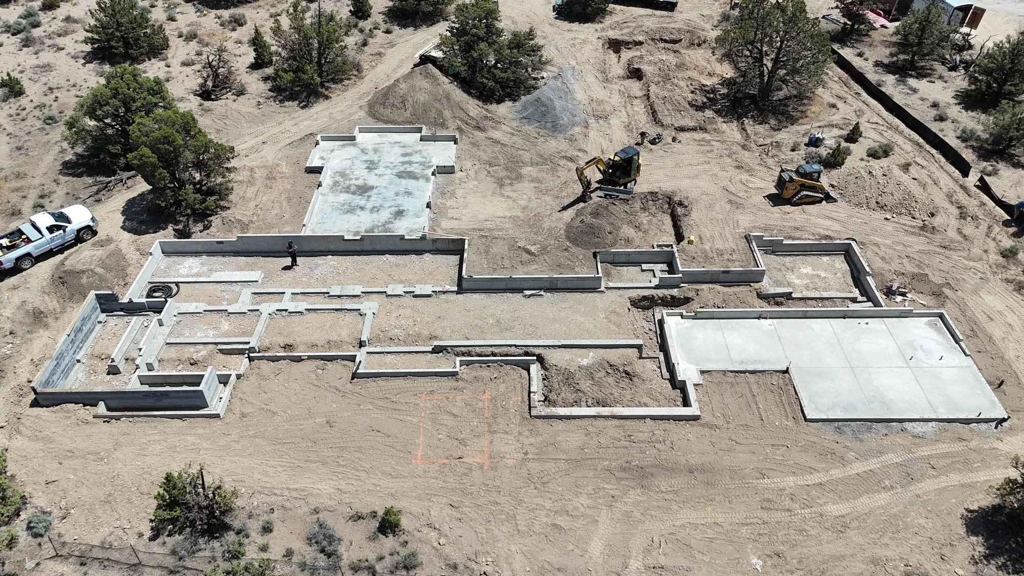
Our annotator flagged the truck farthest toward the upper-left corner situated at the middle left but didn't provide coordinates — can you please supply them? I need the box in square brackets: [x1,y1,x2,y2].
[0,206,103,272]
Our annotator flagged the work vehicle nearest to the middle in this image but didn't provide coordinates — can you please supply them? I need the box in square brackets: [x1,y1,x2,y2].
[572,145,641,199]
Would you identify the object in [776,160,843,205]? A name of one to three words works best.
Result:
work vehicle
